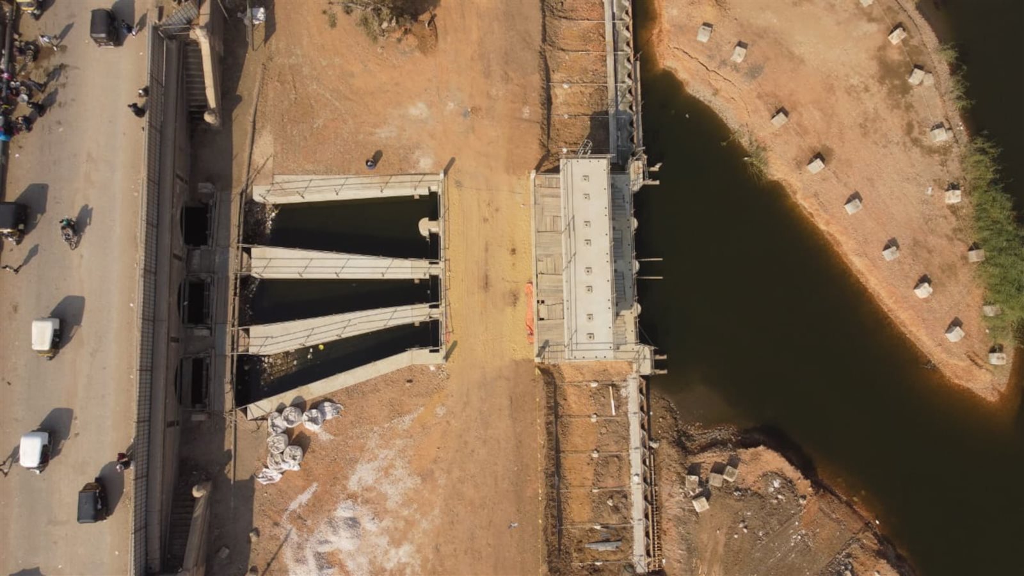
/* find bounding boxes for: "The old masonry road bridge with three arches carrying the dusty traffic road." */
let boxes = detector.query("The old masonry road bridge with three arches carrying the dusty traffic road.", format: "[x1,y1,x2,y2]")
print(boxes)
[0,0,192,576]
